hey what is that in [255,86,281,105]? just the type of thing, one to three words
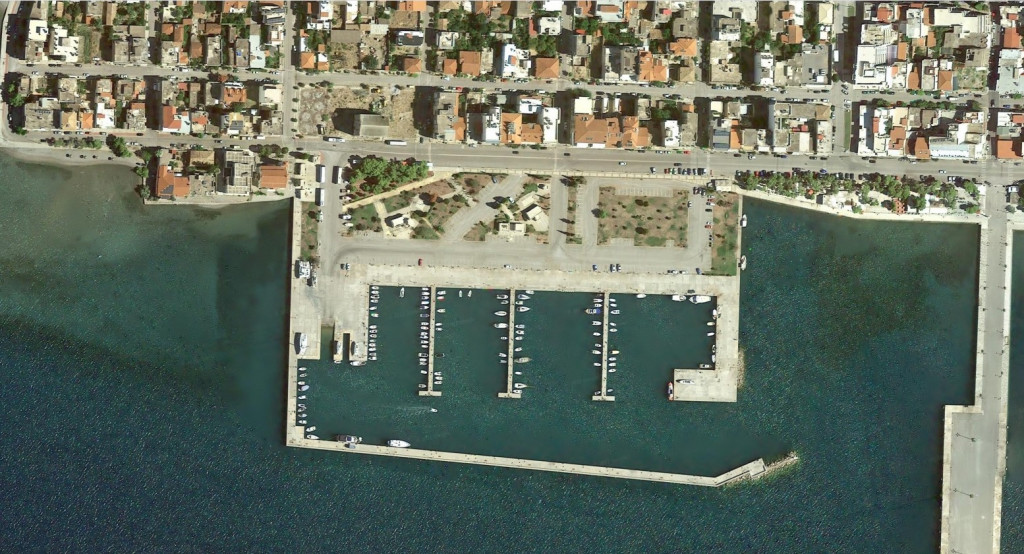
house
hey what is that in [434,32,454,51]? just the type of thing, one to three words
house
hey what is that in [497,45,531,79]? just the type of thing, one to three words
building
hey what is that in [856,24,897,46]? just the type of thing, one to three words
building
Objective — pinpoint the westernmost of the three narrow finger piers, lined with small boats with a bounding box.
[418,287,441,396]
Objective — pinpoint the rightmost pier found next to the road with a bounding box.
[941,186,1012,554]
